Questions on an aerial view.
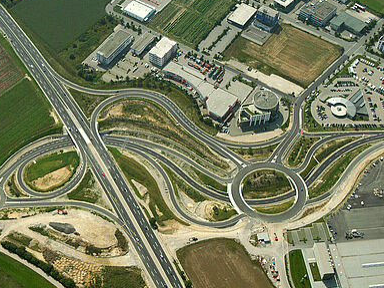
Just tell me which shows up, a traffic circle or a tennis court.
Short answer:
traffic circle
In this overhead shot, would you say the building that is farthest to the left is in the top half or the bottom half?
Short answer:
top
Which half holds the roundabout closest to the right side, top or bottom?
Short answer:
bottom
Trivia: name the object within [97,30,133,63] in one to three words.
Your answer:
building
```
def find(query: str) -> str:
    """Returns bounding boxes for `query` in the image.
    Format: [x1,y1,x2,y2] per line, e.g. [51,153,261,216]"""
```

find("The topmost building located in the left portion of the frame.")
[124,0,151,21]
